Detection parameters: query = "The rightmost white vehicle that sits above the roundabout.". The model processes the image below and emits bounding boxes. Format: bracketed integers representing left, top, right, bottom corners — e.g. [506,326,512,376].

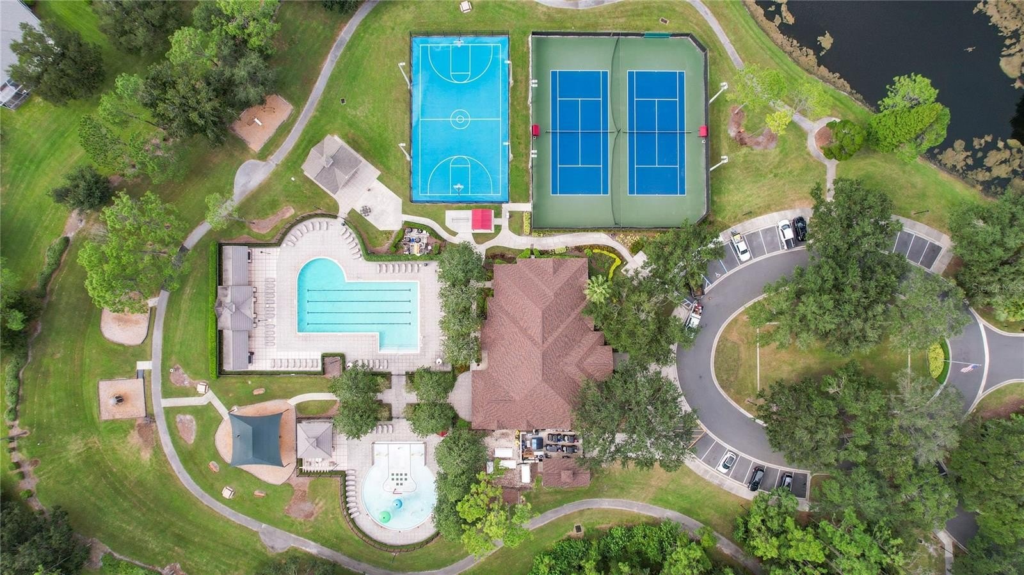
[779,219,797,250]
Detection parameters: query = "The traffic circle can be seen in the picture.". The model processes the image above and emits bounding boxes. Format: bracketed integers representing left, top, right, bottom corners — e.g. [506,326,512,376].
[677,248,986,473]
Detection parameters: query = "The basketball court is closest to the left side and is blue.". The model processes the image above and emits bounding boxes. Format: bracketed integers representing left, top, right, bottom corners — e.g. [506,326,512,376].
[412,36,509,202]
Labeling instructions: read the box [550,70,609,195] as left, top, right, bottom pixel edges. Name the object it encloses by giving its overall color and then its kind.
blue tennis court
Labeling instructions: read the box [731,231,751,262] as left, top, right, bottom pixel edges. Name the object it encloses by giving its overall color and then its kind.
white vehicle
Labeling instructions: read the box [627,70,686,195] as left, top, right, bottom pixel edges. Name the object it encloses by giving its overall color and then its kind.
blue tennis court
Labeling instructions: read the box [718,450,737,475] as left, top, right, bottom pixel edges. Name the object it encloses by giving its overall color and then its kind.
white car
